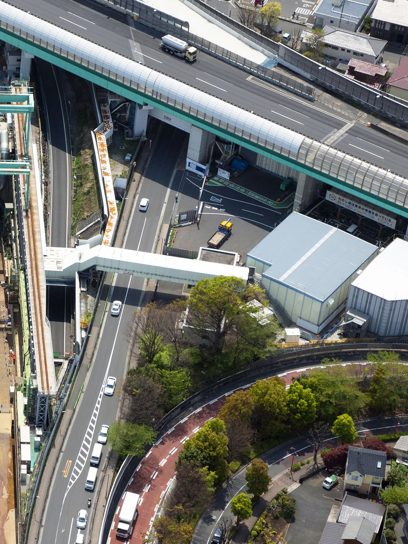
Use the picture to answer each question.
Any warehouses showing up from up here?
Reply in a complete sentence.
Yes, there's a warehouse down there.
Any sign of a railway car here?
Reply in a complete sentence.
No, the frame has no railway car in it.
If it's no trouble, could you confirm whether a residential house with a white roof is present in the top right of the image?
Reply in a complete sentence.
Yes, there is a residential house with a white roof in the top right of the image.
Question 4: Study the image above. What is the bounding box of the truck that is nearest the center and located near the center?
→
[208,217,233,244]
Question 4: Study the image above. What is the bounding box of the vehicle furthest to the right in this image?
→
[323,473,340,489]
